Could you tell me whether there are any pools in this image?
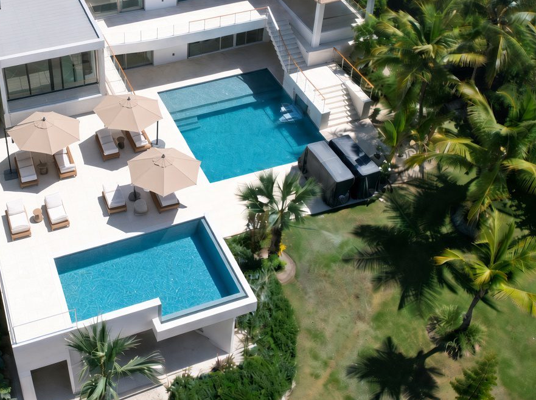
Yes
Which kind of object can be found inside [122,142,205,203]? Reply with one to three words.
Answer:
umbrella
